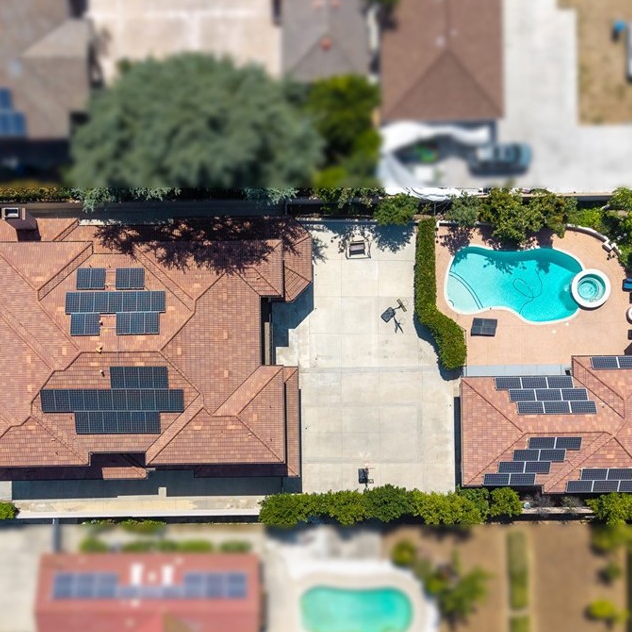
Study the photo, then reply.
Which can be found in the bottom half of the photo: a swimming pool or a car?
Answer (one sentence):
It is a swimming pool that can be seen in the bottom half of the photo.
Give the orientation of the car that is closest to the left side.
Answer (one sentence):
In this picture, the car that is closest to the left side is oriented from left to right.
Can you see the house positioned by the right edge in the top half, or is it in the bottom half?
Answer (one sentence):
The bottom half of the photo is where the house positioned by the right edge is.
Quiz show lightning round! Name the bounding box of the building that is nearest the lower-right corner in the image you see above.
[459,355,632,494]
